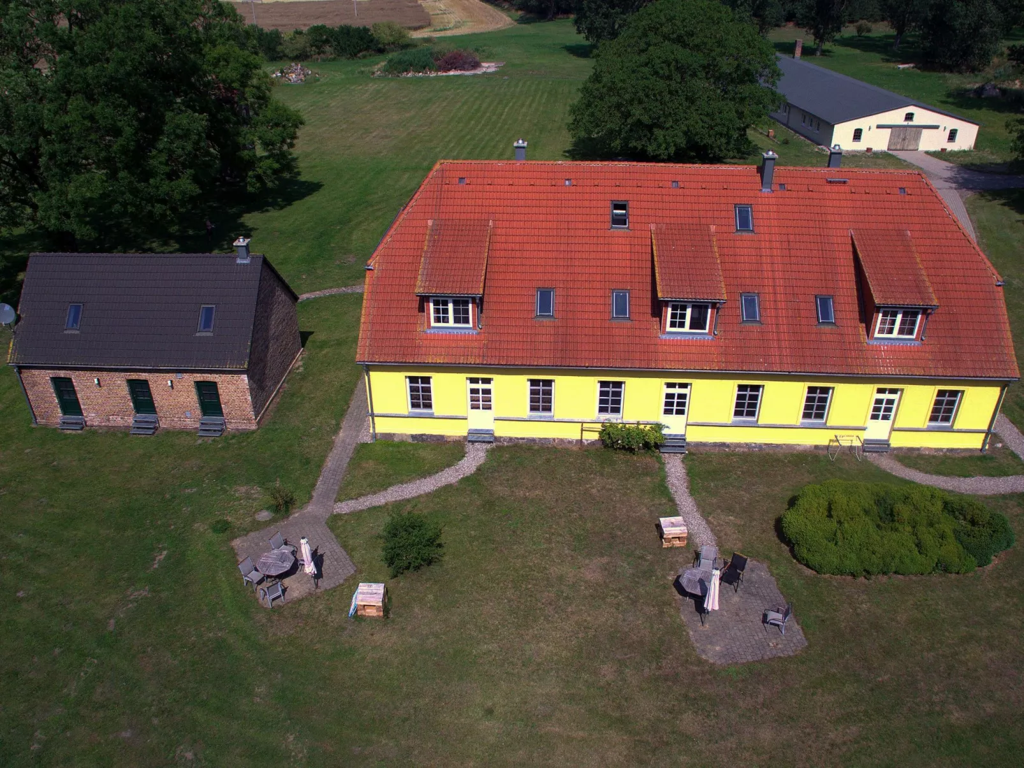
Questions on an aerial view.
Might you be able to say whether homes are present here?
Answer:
Yes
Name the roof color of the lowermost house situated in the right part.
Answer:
red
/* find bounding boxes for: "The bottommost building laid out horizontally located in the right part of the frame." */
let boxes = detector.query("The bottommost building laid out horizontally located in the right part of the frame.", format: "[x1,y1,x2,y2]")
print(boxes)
[356,141,1023,459]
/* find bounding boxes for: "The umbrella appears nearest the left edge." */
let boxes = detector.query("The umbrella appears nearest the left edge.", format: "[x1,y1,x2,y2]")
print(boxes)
[300,535,325,593]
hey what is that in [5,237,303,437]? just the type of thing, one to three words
house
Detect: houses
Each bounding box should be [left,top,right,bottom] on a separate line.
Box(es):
[356,141,1023,459]
[5,237,303,437]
